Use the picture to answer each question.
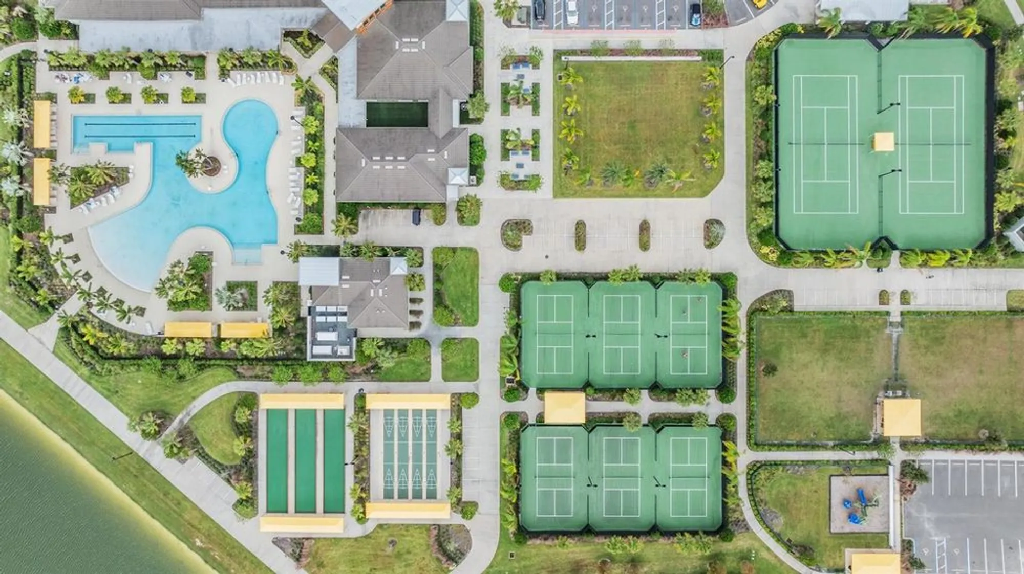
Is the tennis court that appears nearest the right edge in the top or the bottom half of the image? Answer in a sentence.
It is in the top half that the tennis court that appears nearest the right edge appears.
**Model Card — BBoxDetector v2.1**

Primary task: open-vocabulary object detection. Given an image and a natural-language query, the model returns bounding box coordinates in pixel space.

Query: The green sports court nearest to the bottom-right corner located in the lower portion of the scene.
[656,428,722,531]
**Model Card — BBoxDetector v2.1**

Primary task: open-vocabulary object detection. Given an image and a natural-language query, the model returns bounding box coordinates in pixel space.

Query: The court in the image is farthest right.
[880,39,987,249]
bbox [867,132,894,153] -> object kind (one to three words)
building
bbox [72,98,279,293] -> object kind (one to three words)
swimming pool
